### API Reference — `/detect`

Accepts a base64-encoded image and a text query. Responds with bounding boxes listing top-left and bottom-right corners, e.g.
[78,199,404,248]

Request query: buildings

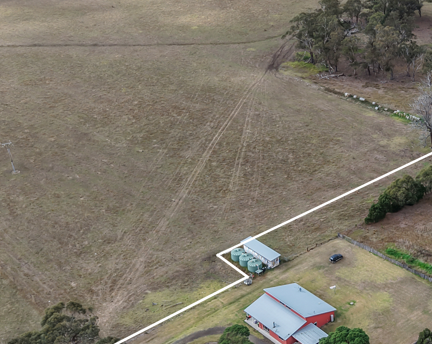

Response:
[244,280,337,344]
[241,237,282,267]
